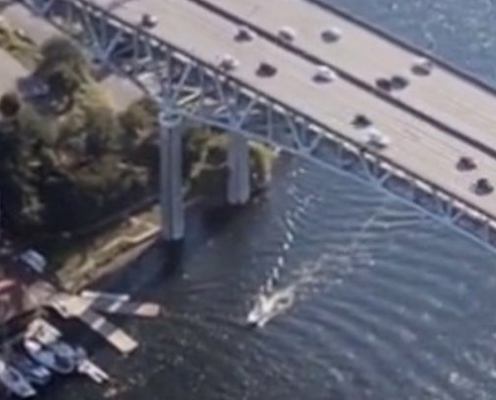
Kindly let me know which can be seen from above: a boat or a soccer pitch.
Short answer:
boat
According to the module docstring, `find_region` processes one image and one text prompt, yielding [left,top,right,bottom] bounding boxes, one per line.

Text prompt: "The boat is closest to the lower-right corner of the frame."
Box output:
[249,303,271,321]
